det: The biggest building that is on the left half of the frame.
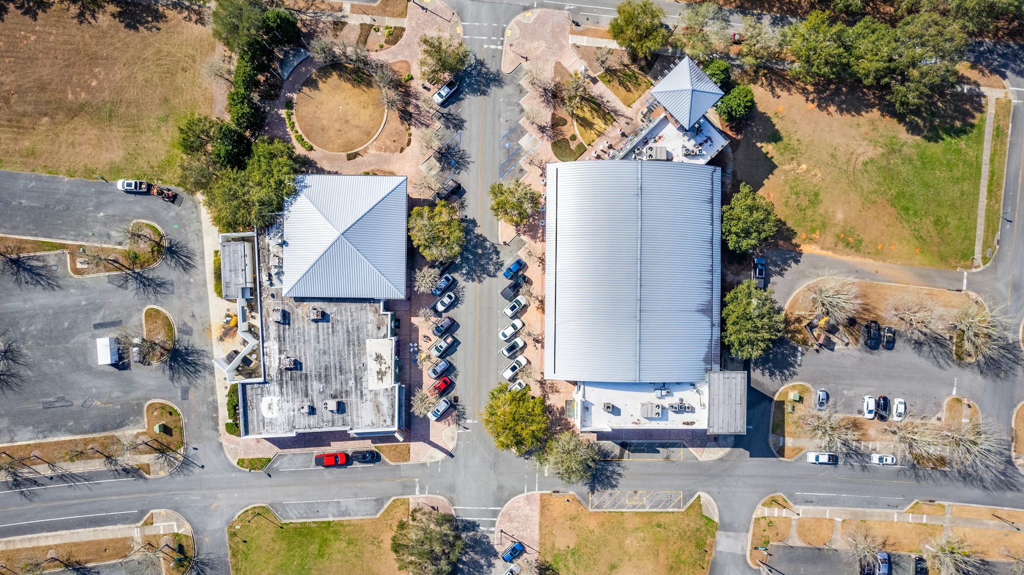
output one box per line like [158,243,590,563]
[238,175,408,438]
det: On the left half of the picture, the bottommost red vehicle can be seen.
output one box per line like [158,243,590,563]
[314,453,348,467]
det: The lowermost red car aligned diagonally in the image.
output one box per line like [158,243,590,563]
[430,376,451,397]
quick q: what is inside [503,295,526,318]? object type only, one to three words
car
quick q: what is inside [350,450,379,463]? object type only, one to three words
vehicle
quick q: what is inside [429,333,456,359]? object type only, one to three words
truck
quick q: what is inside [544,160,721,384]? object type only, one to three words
building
